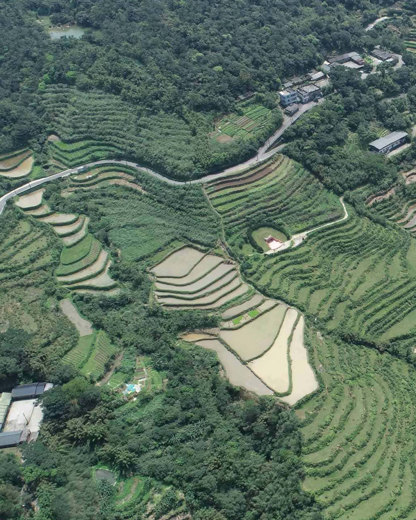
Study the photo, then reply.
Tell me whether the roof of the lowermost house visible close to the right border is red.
No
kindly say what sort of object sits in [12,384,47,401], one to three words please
house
